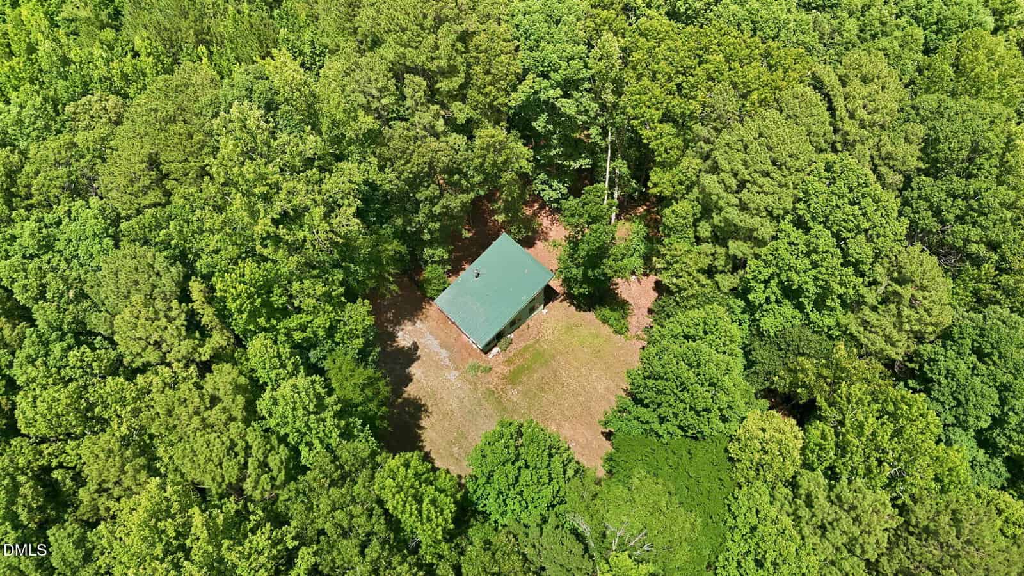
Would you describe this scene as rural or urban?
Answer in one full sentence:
The area is rural.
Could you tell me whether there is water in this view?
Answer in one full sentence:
No, the picture contains no water.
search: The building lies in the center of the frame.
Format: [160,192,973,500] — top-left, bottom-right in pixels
[435,231,555,355]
